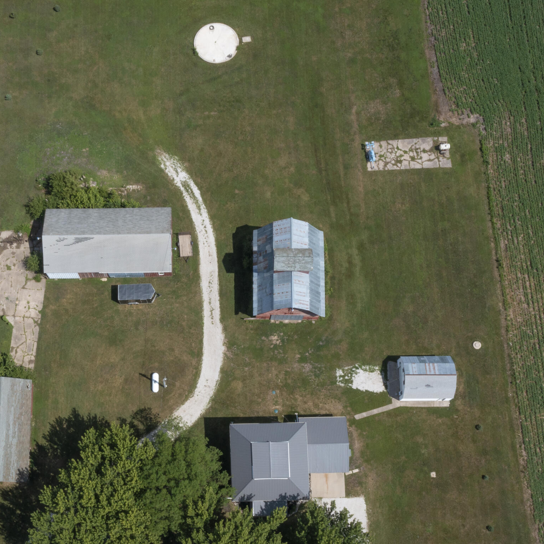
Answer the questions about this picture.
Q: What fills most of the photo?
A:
grass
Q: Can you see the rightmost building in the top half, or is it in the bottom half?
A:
bottom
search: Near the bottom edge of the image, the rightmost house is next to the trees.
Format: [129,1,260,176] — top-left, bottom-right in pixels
[229,408,349,517]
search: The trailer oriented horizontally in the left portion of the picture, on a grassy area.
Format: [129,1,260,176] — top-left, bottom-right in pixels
[118,284,159,305]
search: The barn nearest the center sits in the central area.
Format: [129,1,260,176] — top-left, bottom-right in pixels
[253,217,326,321]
